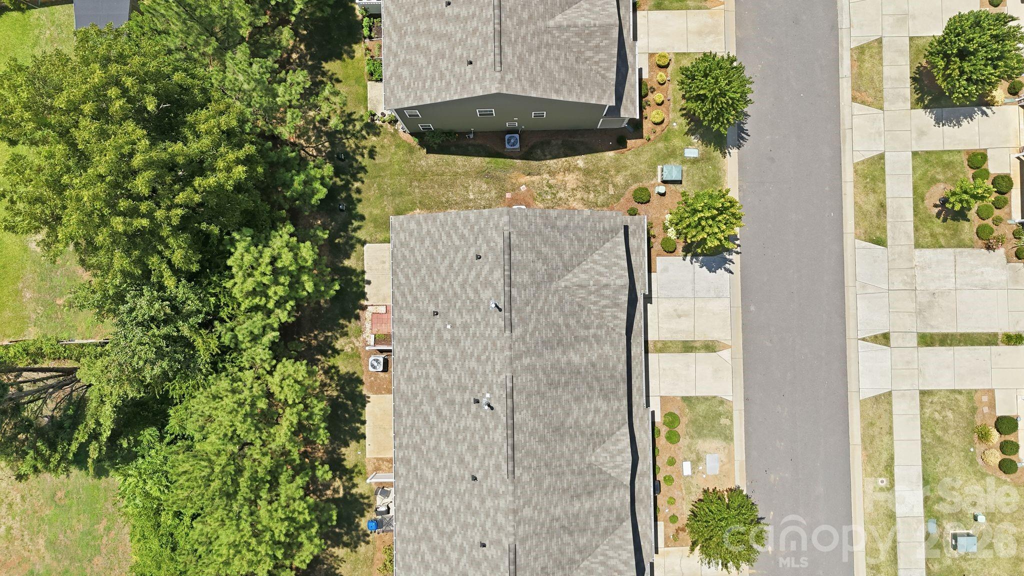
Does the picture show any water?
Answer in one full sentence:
No, no water is visible.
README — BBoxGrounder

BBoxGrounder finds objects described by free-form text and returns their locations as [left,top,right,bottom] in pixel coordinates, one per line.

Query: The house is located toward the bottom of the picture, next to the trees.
[389,208,655,576]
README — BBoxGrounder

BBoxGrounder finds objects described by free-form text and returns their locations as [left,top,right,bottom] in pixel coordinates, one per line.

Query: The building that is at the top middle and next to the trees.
[382,0,640,132]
